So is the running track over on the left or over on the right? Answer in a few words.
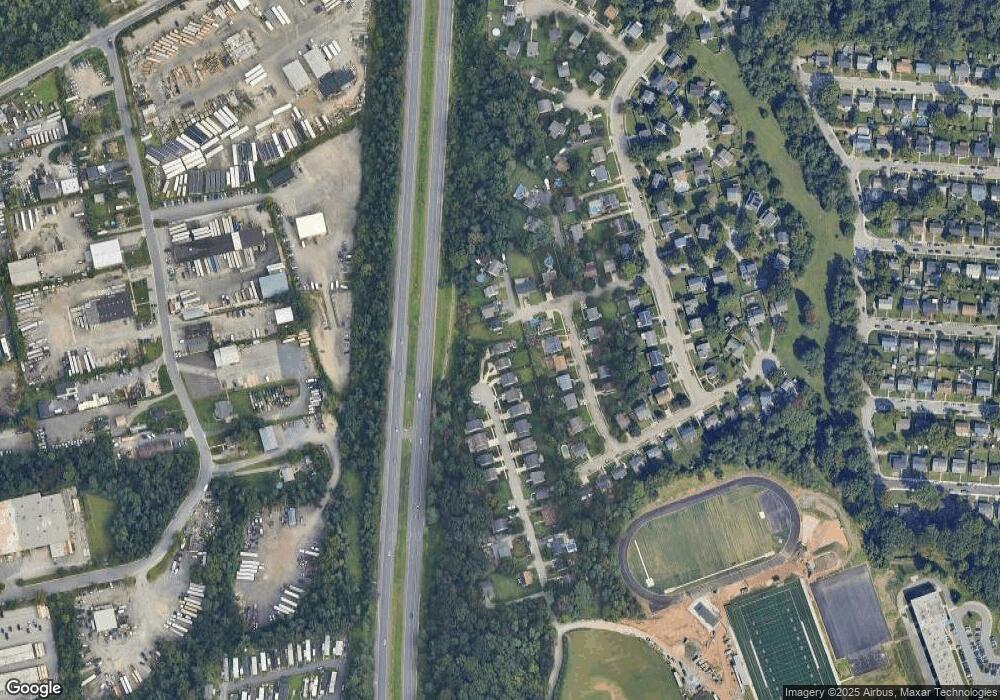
right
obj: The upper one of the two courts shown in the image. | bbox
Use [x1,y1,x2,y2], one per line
[811,565,892,658]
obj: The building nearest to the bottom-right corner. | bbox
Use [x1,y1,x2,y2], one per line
[912,591,979,700]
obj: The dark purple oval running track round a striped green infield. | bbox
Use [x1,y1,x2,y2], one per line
[613,474,802,612]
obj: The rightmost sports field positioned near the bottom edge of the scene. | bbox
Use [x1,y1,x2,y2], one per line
[726,579,842,700]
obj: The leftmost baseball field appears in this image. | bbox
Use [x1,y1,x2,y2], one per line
[562,630,674,700]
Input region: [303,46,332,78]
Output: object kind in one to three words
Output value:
building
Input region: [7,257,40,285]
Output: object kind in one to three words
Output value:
building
